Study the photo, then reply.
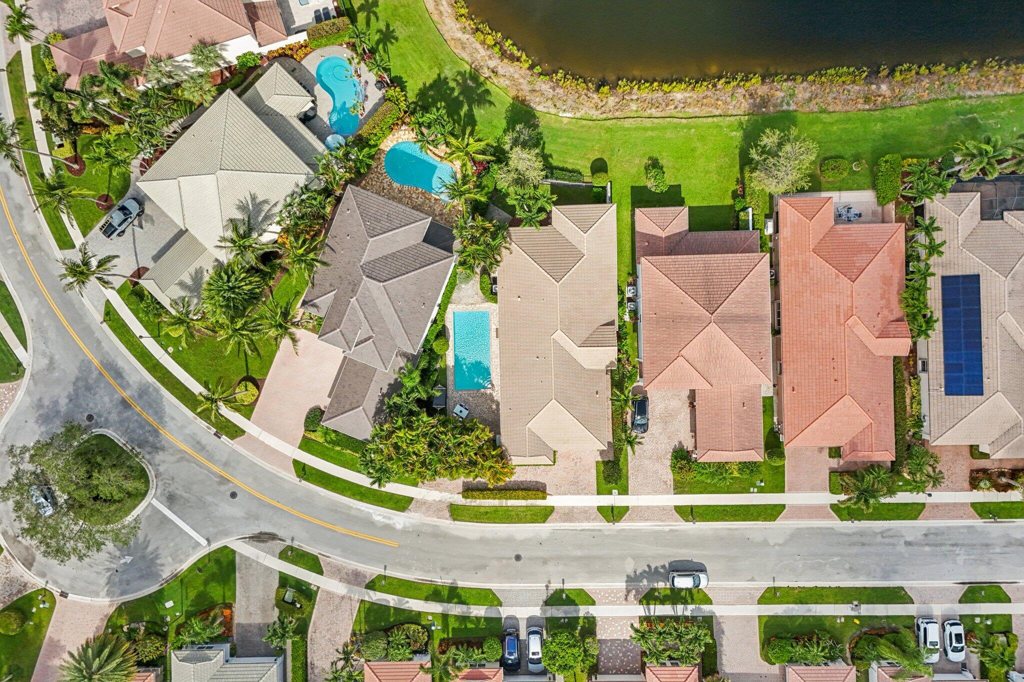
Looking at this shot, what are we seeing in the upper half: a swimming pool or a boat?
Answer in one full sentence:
The feature located in the upper half is a swimming pool.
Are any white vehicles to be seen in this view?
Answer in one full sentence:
Yes, the picture does show a white vehicle.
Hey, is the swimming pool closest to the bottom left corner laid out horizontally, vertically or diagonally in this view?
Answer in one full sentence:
The swimming pool closest to the bottom left corner is laid out vertically.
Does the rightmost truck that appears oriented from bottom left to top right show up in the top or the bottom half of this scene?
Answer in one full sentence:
Seen from above, the rightmost truck that appears oriented from bottom left to top right lies in the top half of the view.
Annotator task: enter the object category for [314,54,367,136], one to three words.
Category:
swimming pool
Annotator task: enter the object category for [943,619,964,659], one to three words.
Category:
car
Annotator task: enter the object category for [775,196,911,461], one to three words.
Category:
house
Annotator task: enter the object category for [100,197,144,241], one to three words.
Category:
truck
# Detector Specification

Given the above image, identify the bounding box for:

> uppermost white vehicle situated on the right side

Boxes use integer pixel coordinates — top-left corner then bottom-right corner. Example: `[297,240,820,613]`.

[669,569,707,590]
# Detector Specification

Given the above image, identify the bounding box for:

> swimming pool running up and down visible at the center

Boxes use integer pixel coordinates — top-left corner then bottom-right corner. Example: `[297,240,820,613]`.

[452,310,495,397]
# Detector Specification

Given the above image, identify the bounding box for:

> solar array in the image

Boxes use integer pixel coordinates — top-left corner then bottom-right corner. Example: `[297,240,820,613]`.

[942,274,983,395]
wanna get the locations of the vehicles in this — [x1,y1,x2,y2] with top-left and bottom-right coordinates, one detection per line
[669,569,707,590]
[100,197,144,241]
[501,627,521,668]
[525,627,544,667]
[631,394,650,434]
[916,619,940,660]
[943,619,964,659]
